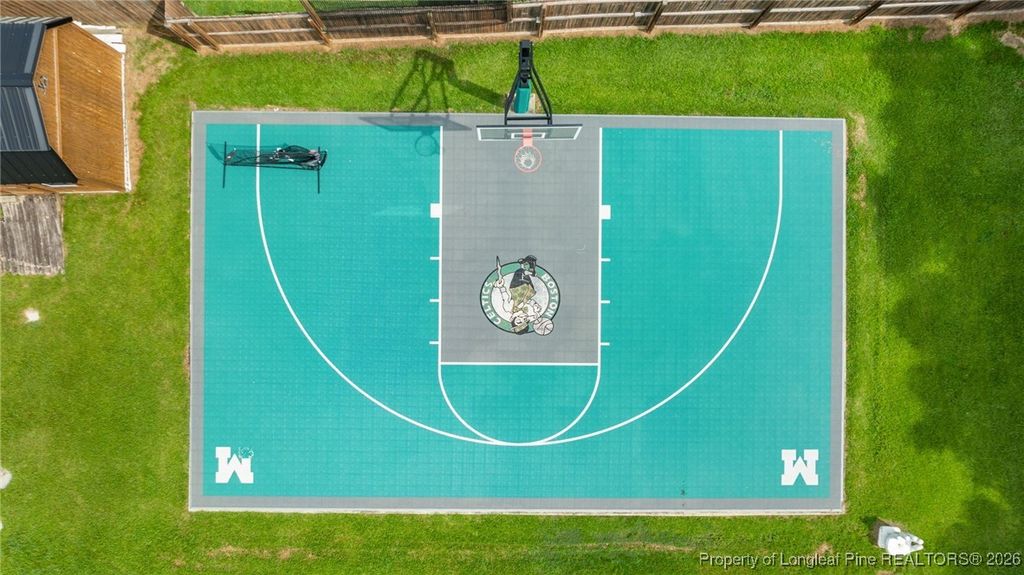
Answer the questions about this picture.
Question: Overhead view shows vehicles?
No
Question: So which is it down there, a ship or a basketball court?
basketball court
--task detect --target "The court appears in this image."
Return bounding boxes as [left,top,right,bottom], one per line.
[187,110,847,514]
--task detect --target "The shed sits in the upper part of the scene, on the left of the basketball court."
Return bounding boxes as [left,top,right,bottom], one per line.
[0,17,128,194]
